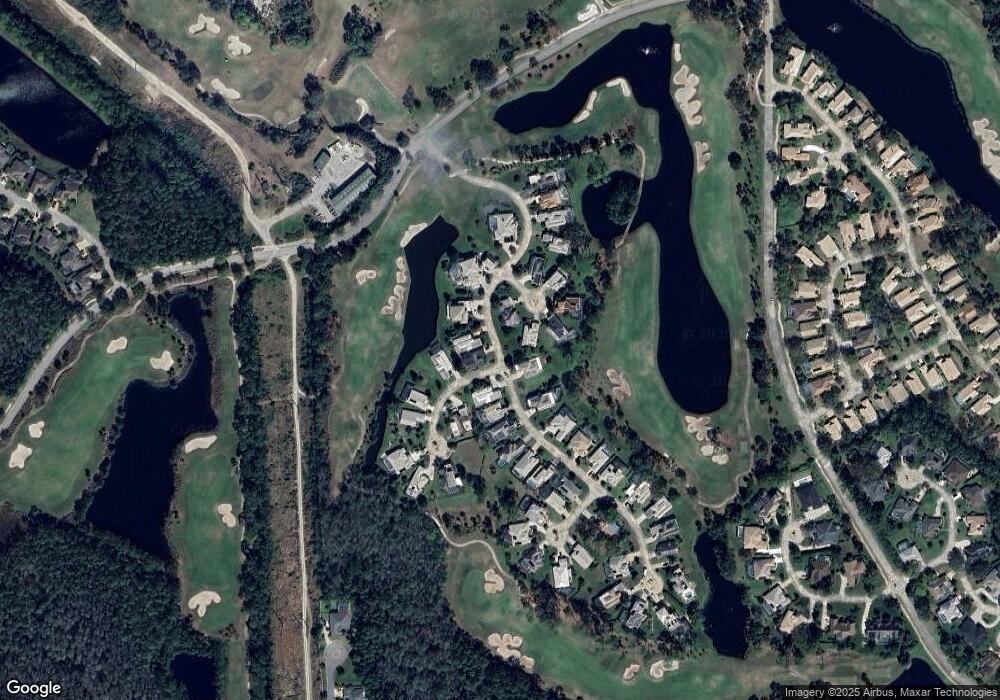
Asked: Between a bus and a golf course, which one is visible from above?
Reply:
golf course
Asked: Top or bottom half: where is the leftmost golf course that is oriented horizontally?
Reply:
top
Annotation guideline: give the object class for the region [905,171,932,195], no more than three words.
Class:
house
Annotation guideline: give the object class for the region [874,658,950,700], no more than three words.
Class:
pond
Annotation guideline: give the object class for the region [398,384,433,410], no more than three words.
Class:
house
